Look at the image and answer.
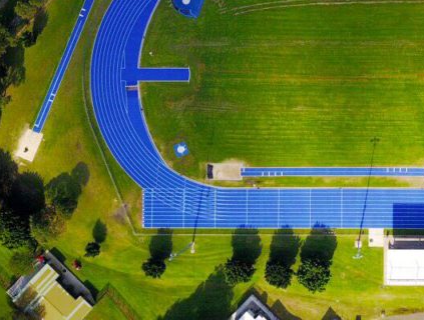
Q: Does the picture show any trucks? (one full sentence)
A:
No, there appears to be no truck in this shot.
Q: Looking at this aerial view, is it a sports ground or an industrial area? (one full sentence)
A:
What you see here is a sports ground.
